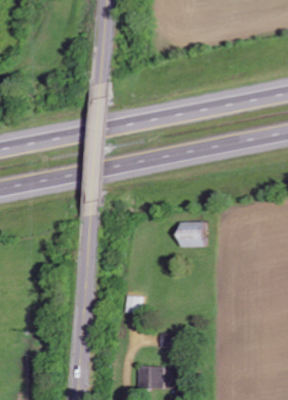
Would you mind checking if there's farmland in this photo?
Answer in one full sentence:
Yes, there's farmland in this view.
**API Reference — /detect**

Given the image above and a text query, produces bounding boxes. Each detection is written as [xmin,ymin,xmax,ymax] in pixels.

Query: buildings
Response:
[138,365,170,391]
[126,294,147,315]
[176,221,208,248]
[160,332,176,349]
